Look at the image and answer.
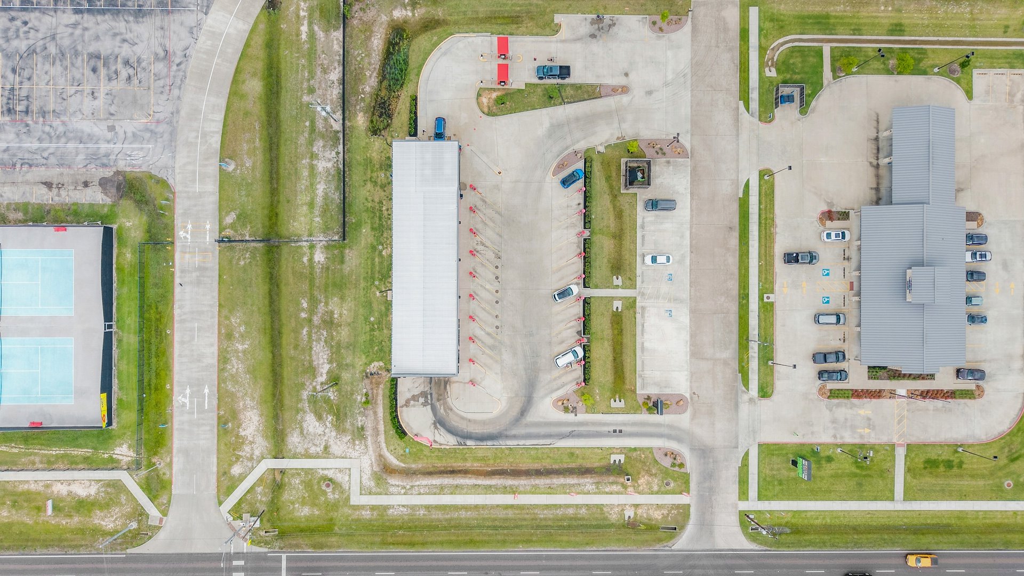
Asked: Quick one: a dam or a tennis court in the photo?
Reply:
tennis court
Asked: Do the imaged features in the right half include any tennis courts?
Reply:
No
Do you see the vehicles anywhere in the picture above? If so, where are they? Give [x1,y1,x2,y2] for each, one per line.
[966,269,987,283]
[813,312,846,326]
[904,553,939,569]
[955,368,986,381]
[433,117,446,139]
[783,250,820,265]
[559,169,586,190]
[820,228,850,242]
[554,346,584,368]
[552,284,579,303]
[966,294,985,307]
[966,232,990,246]
[817,369,848,382]
[966,313,990,326]
[966,250,993,263]
[644,253,672,266]
[536,64,570,79]
[811,350,847,365]
[645,198,677,212]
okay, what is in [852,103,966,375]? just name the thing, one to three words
building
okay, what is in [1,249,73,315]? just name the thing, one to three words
tennis court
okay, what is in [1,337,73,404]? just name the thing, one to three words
tennis court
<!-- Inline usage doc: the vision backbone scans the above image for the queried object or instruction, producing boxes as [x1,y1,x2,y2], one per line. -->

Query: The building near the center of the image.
[391,139,461,378]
